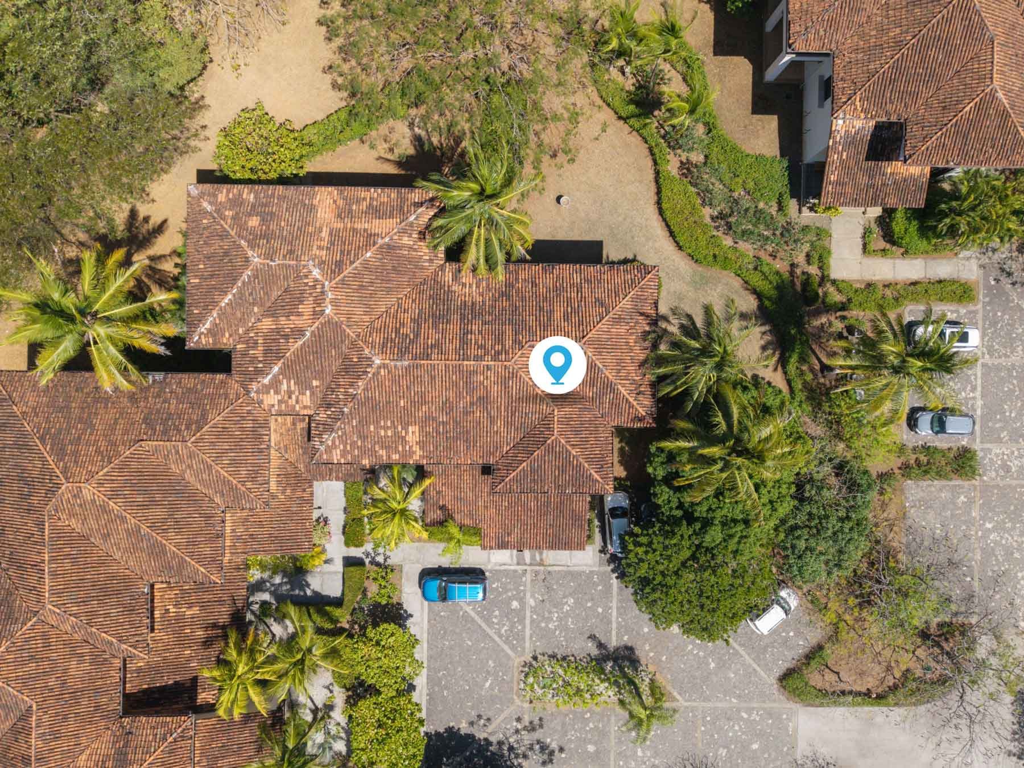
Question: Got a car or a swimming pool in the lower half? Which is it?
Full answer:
The feature located in the lower half is a car.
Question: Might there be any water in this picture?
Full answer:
No, there's no water in this view.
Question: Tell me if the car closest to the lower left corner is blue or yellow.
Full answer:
From above, the car closest to the lower left corner appears blue.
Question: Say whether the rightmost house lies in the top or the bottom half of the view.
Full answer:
It is in the top half that the rightmost house appears.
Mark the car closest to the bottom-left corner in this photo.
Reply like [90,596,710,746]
[424,572,489,606]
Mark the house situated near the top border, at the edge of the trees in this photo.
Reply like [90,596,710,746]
[760,0,1024,210]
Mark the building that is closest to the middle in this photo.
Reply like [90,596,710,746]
[185,184,660,551]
